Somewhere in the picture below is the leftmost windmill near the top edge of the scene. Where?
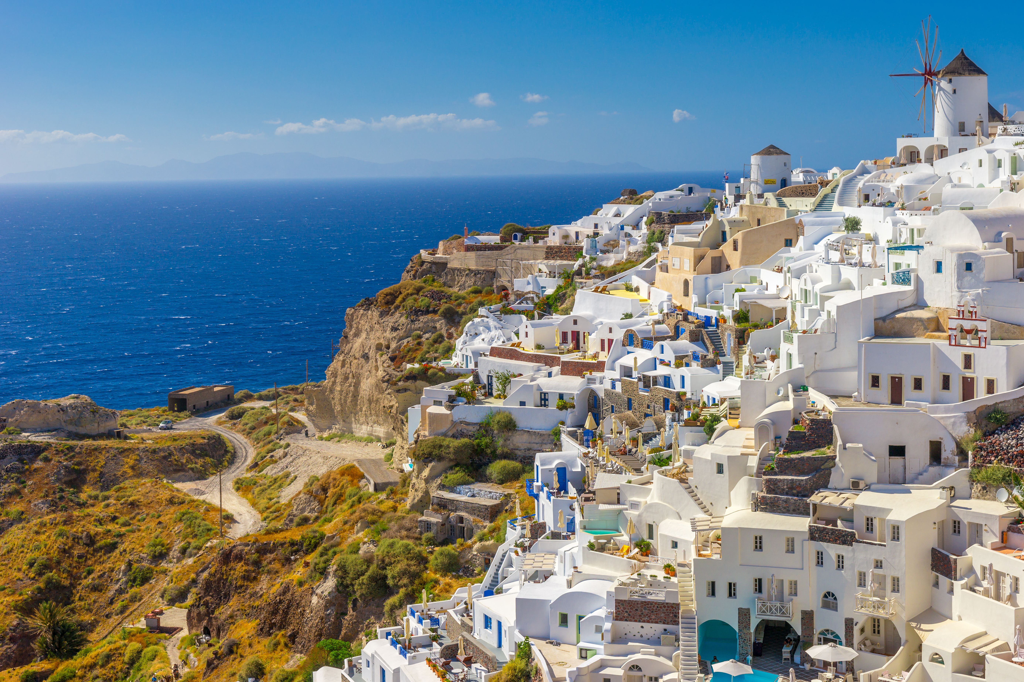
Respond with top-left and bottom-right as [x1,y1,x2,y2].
[887,17,992,159]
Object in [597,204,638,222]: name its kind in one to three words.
house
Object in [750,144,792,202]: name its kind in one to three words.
windmill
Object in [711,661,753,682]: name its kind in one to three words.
umbrella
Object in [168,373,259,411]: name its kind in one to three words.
building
